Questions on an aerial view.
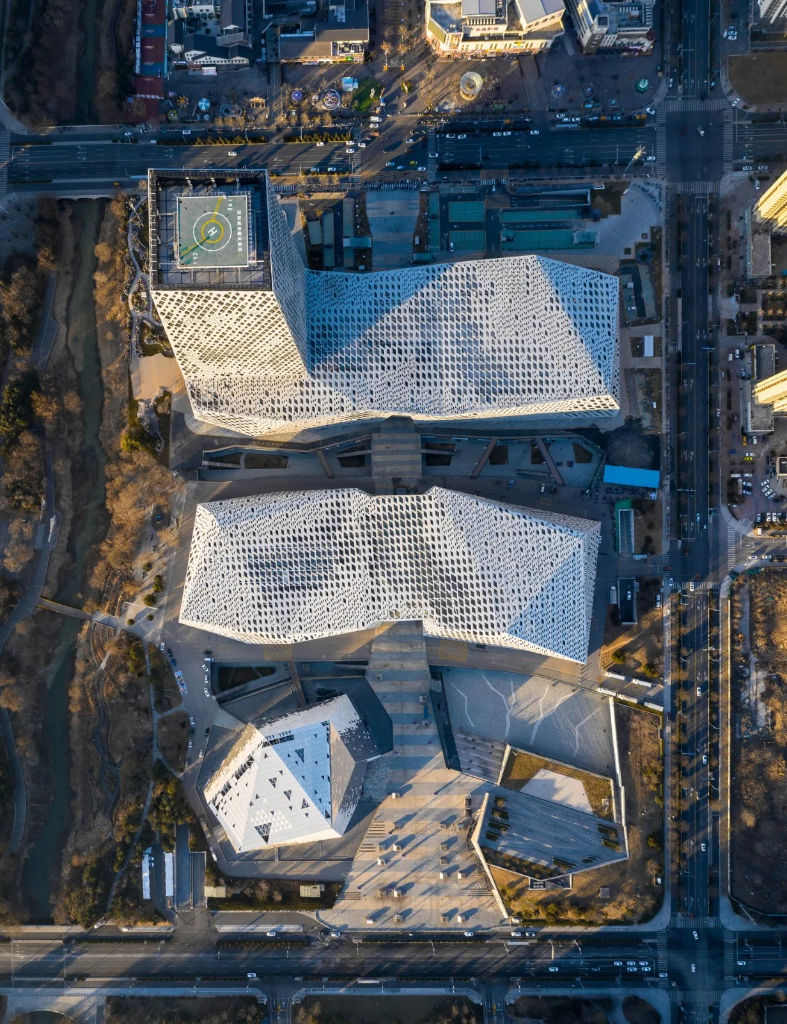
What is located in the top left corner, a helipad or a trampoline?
helipad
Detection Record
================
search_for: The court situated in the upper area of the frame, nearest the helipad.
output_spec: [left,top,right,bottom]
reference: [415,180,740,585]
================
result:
[123,0,164,123]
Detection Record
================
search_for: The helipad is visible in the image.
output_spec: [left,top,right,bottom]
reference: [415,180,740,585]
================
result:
[173,191,253,272]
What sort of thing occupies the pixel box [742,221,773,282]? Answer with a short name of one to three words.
building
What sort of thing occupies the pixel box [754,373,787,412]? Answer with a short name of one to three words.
building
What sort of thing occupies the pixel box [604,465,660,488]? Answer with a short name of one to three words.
shed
